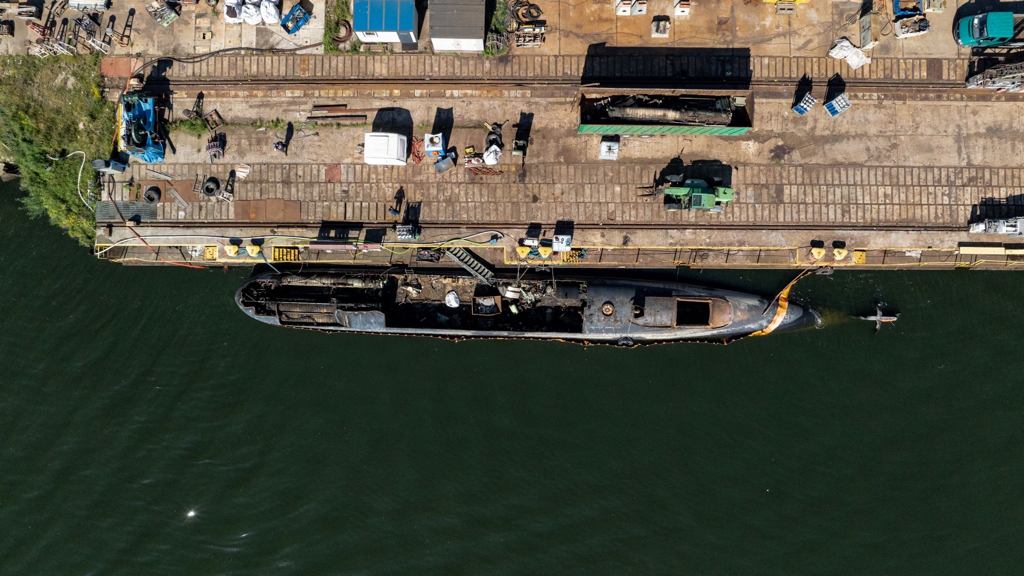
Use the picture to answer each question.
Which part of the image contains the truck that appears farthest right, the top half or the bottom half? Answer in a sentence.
It is in the top half that the truck that appears farthest right appears.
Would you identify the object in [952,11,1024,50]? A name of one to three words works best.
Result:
truck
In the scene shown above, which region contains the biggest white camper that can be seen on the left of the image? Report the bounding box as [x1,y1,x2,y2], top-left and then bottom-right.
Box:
[354,133,408,165]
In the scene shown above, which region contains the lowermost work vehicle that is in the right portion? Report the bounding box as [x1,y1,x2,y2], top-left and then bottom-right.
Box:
[636,175,734,212]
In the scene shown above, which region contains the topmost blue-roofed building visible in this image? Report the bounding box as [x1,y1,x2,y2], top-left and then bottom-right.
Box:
[353,0,417,42]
